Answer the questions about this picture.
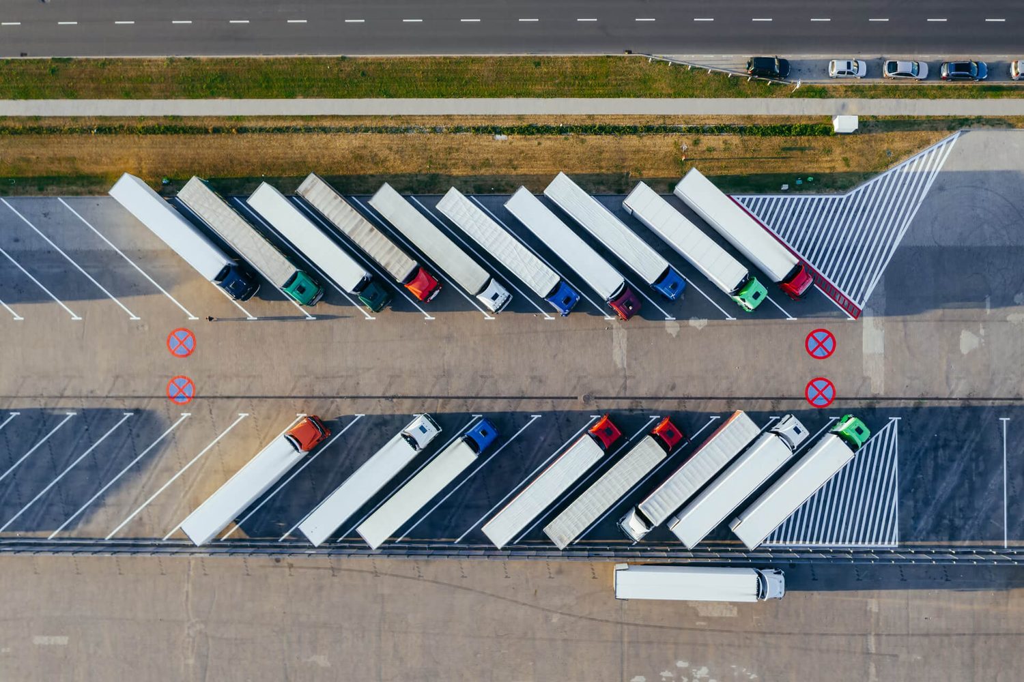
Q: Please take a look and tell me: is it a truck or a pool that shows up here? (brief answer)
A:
truck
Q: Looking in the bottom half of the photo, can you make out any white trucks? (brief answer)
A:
Yes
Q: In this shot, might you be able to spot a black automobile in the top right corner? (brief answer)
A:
Yes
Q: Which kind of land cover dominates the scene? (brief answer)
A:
paved ground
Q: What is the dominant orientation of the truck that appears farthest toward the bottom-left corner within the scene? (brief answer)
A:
diagonally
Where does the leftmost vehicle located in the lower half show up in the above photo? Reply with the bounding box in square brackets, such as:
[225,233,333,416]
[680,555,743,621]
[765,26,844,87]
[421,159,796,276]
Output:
[181,412,334,546]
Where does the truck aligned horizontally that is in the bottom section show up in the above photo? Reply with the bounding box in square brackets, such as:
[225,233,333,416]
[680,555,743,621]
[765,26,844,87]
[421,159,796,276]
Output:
[611,561,786,603]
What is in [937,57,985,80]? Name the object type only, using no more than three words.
car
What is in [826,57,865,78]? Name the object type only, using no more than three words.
car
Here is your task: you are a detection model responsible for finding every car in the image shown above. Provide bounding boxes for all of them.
[745,53,788,77]
[880,57,926,79]
[826,57,865,78]
[937,57,985,80]
[1008,61,1024,80]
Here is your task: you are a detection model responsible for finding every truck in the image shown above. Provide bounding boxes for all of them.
[296,173,444,305]
[369,183,514,316]
[611,561,786,603]
[436,187,581,318]
[505,186,644,323]
[543,414,685,549]
[109,173,267,305]
[357,414,501,549]
[482,413,624,549]
[247,182,395,316]
[724,412,873,550]
[177,176,331,310]
[181,412,334,546]
[665,412,810,549]
[615,408,760,543]
[670,168,817,301]
[299,410,444,546]
[543,172,689,304]
[619,182,769,313]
